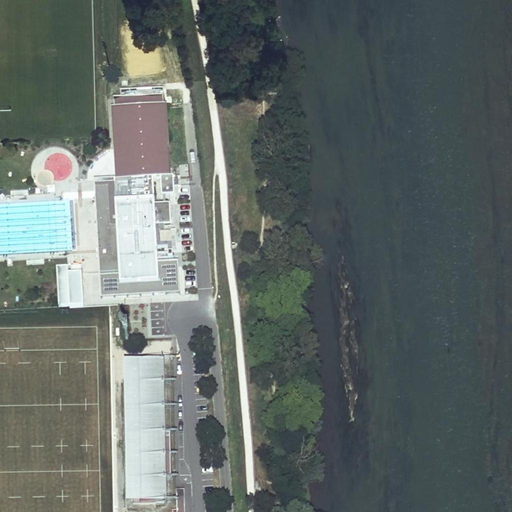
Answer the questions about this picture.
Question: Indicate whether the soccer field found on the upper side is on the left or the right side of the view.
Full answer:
The soccer field found on the upper side appears in the left half of the scene.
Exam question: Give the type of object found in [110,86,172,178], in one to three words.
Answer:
building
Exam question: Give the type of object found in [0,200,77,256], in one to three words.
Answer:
swimming pool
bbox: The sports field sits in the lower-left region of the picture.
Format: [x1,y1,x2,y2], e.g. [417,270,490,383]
[0,325,102,512]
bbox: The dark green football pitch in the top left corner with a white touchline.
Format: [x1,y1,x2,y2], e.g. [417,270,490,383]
[0,0,97,127]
